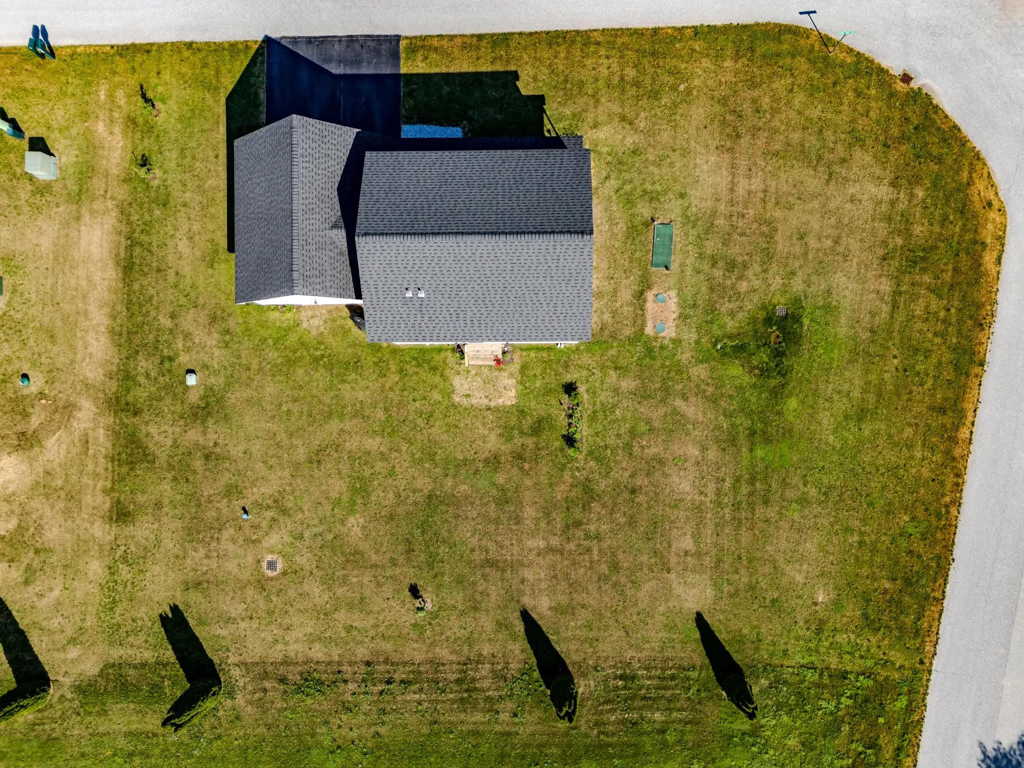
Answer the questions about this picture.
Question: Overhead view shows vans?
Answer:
No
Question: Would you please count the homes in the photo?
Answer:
one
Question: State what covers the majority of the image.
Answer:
grass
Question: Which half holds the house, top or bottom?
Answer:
top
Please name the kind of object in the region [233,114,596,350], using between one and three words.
house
